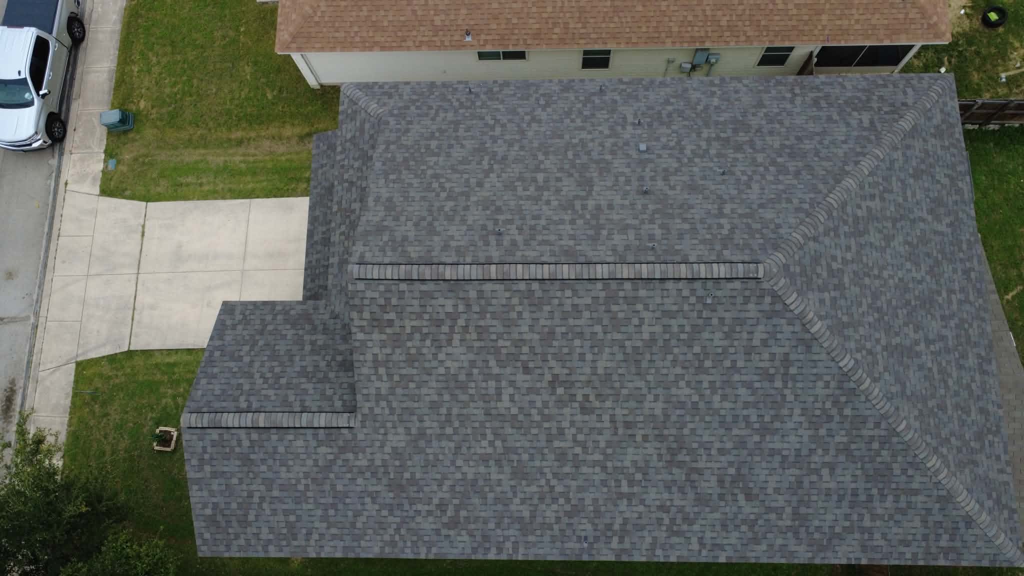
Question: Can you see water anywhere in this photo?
No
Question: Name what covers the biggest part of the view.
buildings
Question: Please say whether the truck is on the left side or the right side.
left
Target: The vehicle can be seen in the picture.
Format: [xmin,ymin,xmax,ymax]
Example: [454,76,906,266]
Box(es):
[0,0,83,157]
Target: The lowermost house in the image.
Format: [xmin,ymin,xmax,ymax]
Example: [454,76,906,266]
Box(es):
[181,72,1024,570]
